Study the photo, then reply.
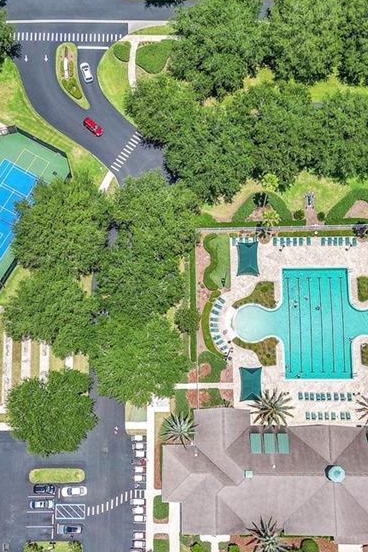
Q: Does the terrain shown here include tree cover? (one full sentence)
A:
Yes, tree cover can be seen from above here.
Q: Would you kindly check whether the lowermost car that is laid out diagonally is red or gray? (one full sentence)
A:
The color of the lowermost car that is laid out diagonally is red.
